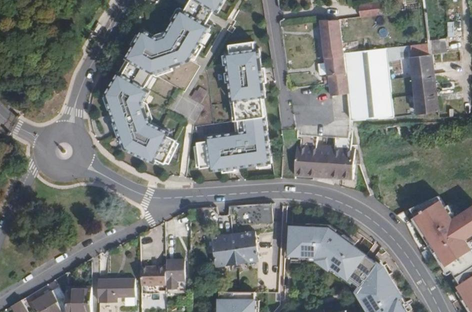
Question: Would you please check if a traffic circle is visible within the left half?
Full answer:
Yes, a traffic circle shows up within the left half.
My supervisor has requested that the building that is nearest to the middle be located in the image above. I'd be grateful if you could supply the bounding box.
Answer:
[196,118,274,174]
